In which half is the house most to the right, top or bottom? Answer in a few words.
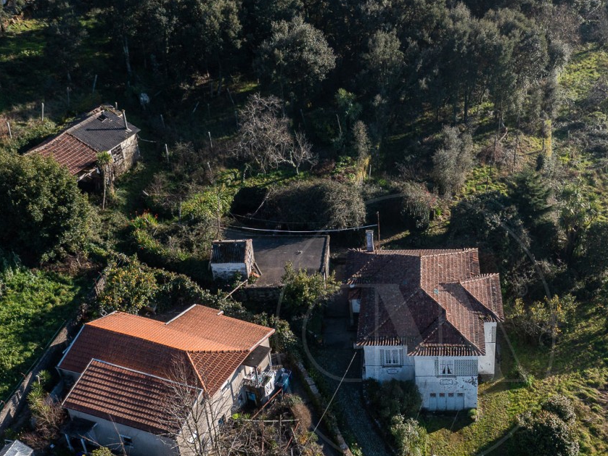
bottom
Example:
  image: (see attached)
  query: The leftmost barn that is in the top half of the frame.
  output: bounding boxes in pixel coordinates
[16,108,143,184]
